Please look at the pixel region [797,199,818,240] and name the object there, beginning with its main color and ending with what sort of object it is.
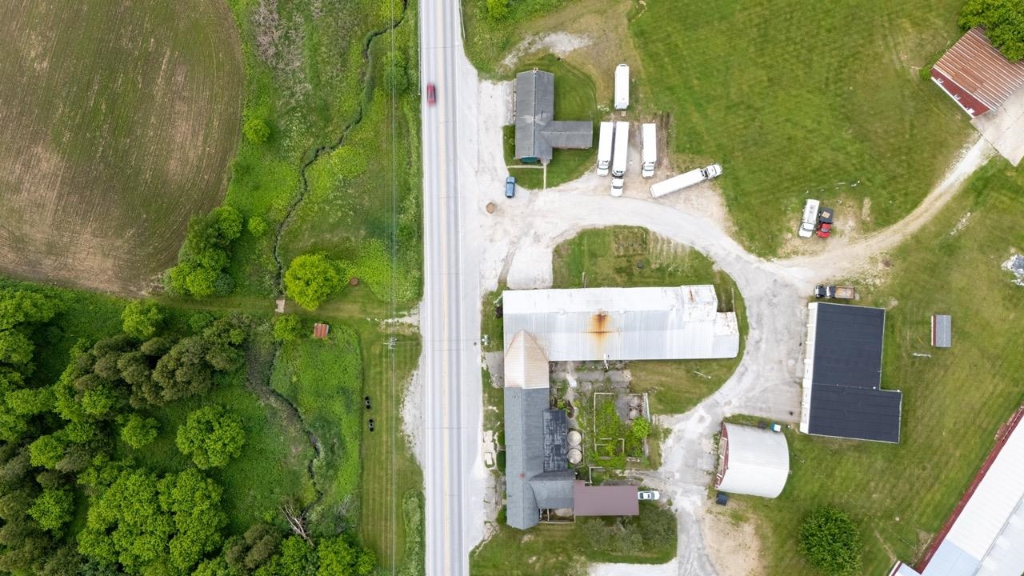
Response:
white truck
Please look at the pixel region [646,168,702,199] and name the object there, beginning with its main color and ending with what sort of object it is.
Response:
white trailer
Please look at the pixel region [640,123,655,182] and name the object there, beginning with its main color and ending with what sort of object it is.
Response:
white vehicle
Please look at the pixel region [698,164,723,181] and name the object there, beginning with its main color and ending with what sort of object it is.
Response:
white vehicle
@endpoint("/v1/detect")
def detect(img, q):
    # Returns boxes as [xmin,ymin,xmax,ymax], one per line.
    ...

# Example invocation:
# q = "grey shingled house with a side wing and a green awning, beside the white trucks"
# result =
[515,69,593,166]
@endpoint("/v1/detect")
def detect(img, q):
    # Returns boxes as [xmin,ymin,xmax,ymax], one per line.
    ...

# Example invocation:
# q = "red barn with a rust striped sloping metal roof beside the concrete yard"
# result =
[930,28,1024,117]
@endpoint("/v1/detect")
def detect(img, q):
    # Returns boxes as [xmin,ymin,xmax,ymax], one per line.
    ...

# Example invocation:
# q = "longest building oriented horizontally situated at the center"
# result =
[503,286,738,369]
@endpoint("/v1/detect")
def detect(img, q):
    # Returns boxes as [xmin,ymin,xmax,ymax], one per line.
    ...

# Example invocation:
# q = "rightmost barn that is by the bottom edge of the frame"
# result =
[916,399,1024,576]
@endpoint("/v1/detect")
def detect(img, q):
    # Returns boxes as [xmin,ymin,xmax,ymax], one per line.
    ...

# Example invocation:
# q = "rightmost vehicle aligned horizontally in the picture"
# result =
[818,285,855,299]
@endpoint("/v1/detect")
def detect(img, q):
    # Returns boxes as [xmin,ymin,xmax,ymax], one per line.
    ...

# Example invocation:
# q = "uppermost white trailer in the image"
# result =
[613,66,628,114]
